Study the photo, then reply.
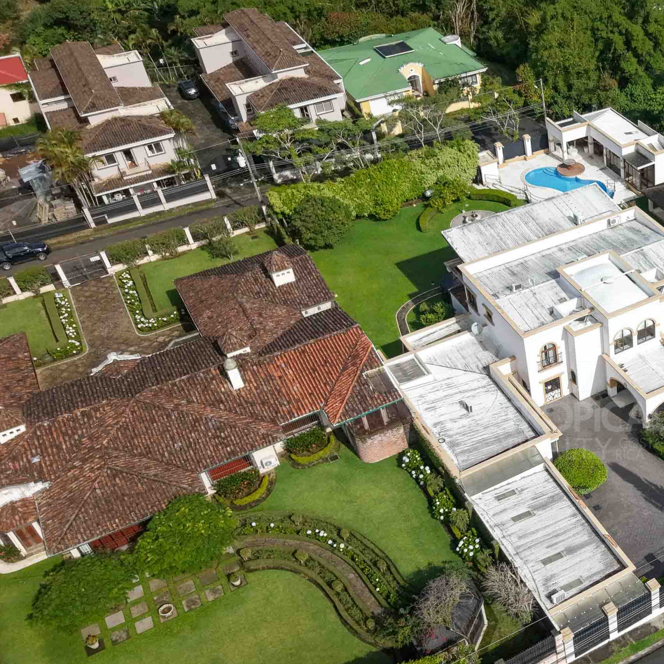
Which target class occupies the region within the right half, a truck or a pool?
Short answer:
pool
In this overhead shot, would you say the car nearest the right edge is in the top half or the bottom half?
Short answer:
top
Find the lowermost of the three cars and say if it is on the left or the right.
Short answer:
left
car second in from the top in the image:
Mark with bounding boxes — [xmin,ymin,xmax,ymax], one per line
[218,106,240,128]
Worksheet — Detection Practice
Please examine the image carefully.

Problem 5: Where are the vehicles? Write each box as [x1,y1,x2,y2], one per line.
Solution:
[172,76,191,98]
[218,106,240,128]
[0,243,48,268]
